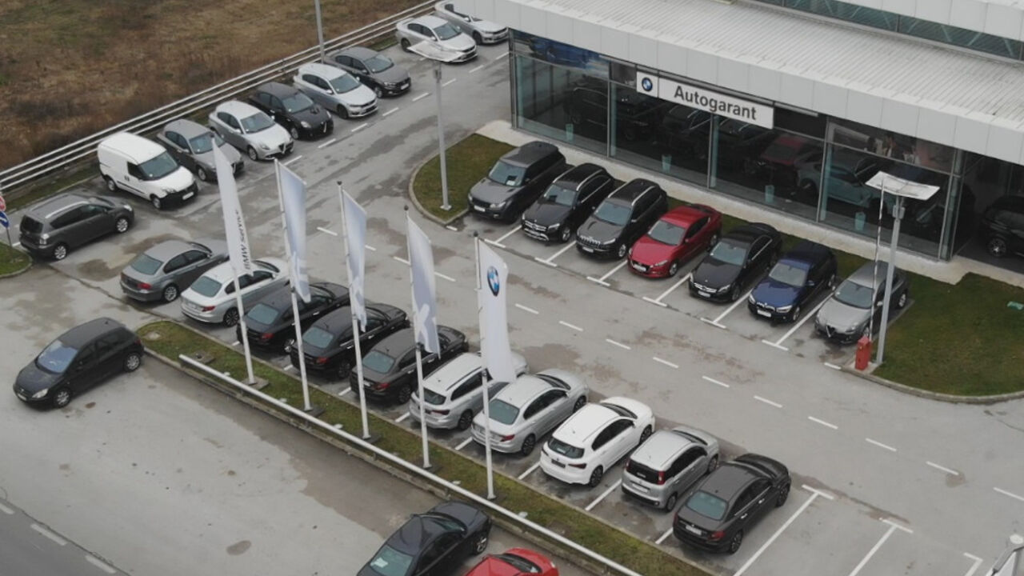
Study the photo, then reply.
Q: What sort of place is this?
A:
parking lot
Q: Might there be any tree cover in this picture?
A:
No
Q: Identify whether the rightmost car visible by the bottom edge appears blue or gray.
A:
gray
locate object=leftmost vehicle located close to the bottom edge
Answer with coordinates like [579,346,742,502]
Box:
[340,500,493,576]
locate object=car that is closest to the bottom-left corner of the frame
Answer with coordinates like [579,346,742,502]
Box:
[12,317,146,410]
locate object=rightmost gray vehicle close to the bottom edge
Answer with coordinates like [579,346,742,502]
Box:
[673,454,795,558]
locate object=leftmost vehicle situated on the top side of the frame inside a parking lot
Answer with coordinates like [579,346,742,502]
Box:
[15,194,133,261]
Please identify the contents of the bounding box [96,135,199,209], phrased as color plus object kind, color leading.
white van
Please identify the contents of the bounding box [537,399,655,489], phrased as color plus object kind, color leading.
white car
